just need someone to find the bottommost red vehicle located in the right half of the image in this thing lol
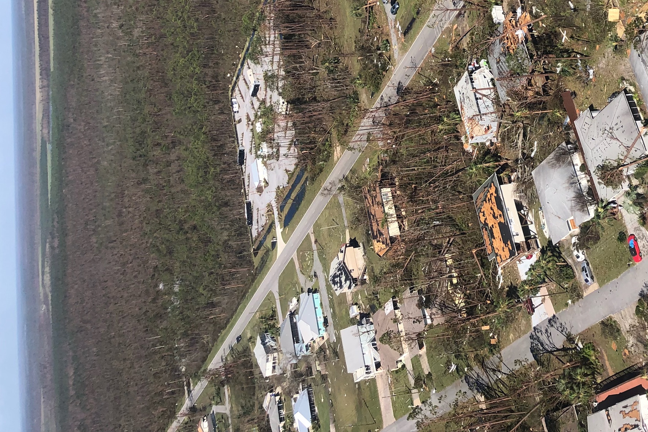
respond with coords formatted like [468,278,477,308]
[520,292,535,323]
